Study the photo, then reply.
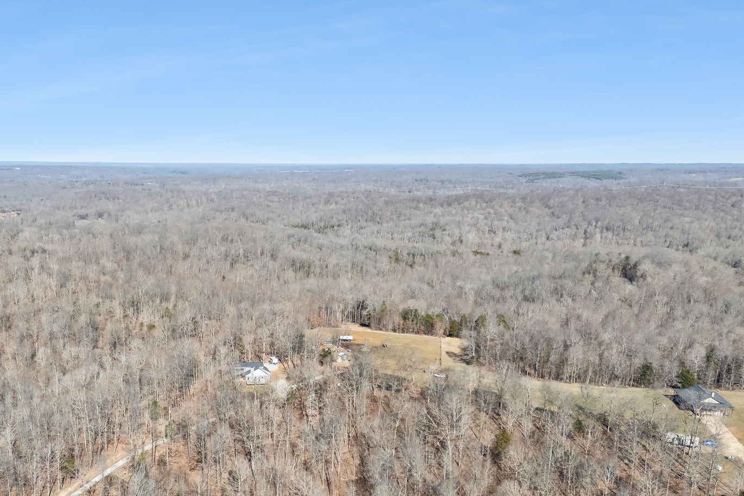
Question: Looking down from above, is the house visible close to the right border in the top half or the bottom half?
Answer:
bottom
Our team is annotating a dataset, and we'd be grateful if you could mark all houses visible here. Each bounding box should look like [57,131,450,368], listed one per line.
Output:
[673,386,736,418]
[227,359,272,386]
